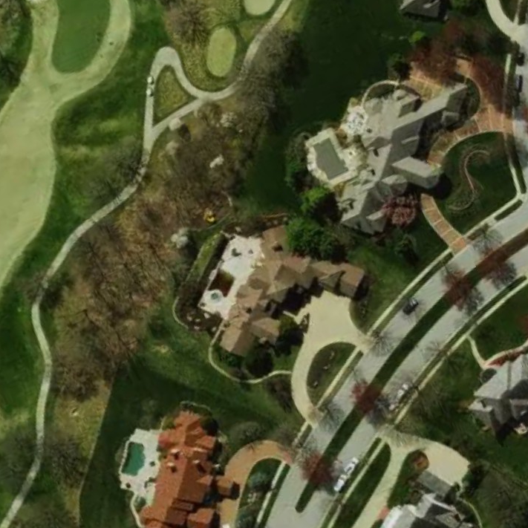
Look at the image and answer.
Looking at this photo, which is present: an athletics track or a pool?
pool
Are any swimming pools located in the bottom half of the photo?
Yes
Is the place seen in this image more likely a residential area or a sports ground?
residential area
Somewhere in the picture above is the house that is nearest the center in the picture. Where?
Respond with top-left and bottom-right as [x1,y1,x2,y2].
[219,226,370,360]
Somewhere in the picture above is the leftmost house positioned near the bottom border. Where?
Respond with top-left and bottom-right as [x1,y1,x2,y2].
[139,407,236,528]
